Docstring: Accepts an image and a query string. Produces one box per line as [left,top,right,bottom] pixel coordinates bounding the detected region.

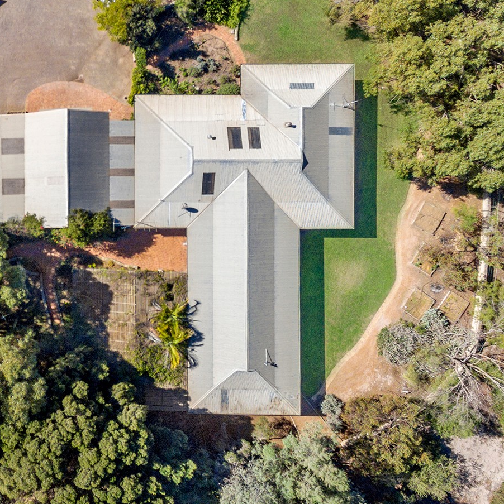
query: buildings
[24,108,110,228]
[133,63,355,416]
